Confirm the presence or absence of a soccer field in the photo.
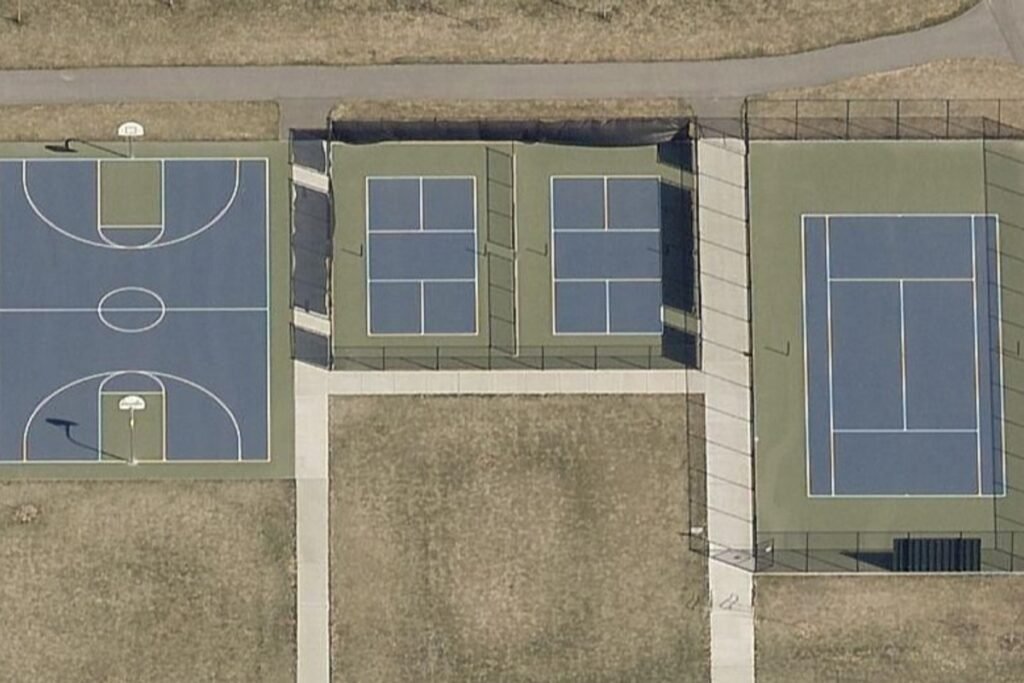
No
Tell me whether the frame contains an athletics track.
No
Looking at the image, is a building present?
No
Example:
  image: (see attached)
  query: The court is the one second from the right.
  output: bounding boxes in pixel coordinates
[514,143,696,369]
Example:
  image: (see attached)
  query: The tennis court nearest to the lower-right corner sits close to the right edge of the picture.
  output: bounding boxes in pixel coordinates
[749,140,1024,571]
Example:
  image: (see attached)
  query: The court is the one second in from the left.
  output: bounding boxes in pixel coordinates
[333,143,517,370]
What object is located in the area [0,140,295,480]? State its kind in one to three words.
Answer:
basketball court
